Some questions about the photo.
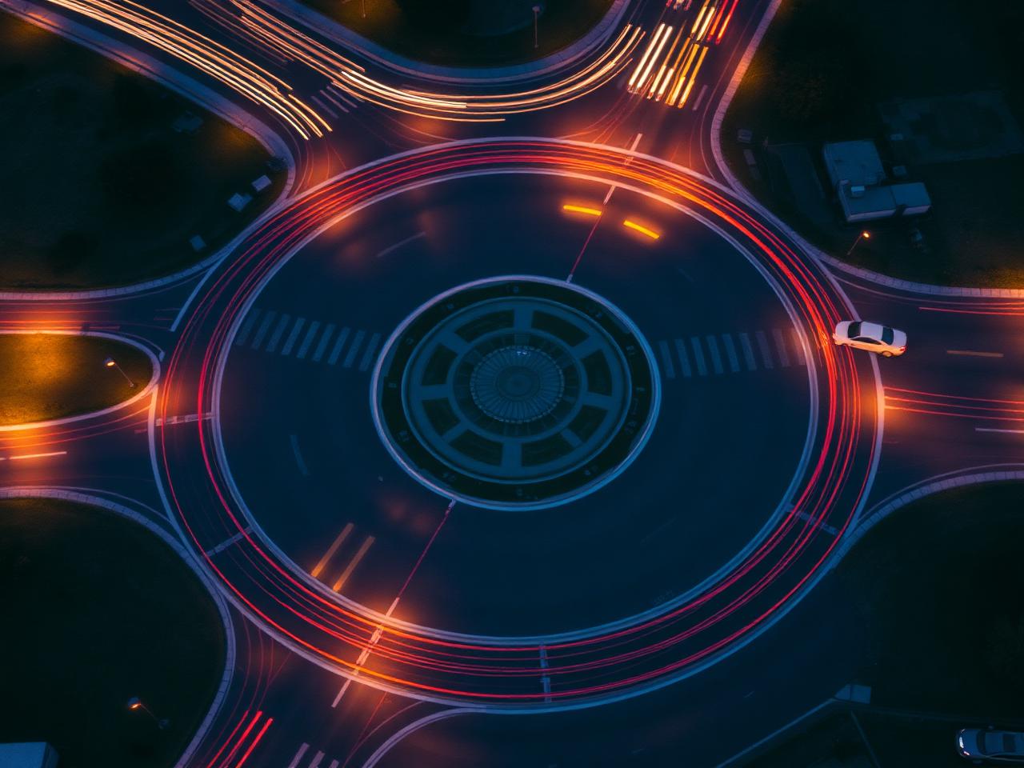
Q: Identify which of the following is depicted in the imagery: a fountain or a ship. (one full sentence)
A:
Visible in the photo is a fountain.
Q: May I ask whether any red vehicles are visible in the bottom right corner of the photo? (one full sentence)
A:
No, there is no red vehicle in the bottom right corner of the photo.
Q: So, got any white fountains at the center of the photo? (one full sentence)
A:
No, I see no white fountain at the center of the photo.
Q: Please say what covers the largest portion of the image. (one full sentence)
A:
The bulk of the photo consists of paved ground.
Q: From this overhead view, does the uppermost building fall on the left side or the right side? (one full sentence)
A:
The uppermost building sits on the right side.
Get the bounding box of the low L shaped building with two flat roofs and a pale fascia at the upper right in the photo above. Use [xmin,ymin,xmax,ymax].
[821,140,930,227]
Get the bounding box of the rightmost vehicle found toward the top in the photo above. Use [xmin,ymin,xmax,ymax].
[898,212,942,255]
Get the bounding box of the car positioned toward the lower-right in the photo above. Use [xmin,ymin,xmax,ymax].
[956,722,1024,767]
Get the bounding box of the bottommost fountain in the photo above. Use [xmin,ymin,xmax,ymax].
[471,339,568,421]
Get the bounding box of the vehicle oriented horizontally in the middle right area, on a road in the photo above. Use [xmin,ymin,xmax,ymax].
[835,317,908,355]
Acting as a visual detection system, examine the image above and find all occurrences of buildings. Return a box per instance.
[0,741,75,768]
[821,140,930,227]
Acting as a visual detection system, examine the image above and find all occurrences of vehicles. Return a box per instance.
[898,212,942,255]
[956,722,1024,767]
[835,317,908,355]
